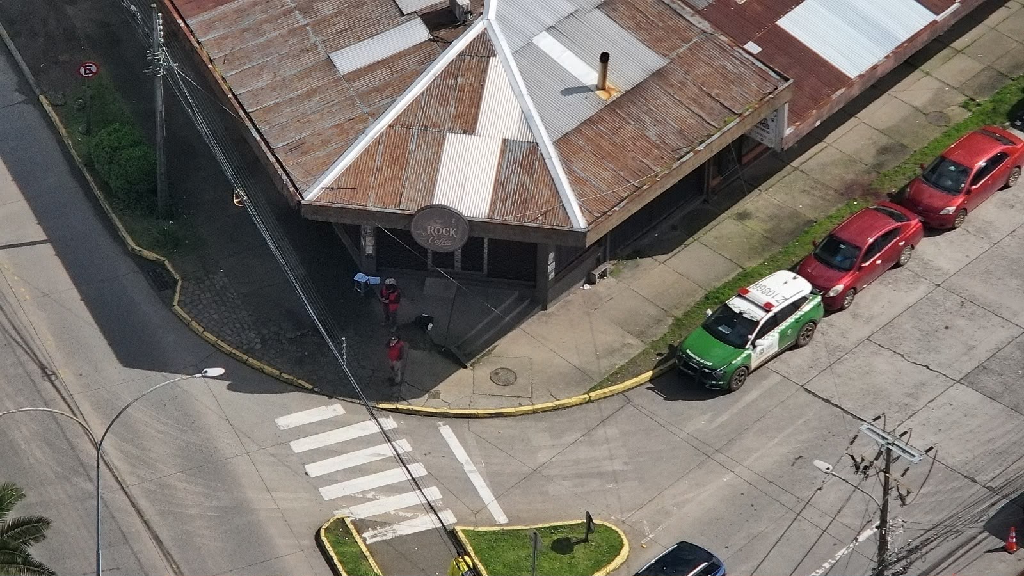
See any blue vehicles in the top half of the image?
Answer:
No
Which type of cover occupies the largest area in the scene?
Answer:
paved ground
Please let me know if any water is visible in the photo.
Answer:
No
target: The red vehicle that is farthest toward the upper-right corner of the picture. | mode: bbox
[901,126,1024,231]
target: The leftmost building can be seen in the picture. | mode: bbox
[154,0,793,310]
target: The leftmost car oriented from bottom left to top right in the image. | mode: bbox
[673,275,825,394]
